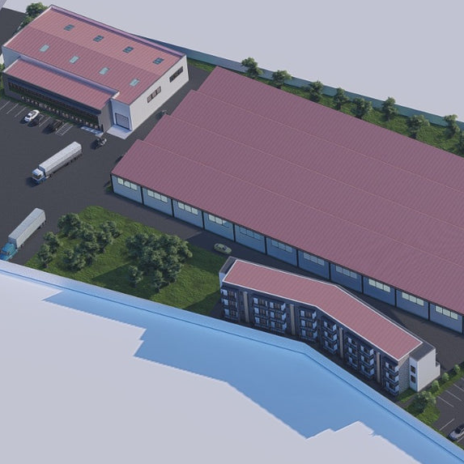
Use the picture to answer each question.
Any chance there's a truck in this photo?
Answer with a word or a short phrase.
Yes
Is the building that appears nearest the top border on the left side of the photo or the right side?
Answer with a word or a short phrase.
left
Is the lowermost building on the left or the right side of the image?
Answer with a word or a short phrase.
right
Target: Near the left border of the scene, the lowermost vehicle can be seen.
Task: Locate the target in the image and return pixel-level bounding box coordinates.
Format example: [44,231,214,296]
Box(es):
[0,209,48,261]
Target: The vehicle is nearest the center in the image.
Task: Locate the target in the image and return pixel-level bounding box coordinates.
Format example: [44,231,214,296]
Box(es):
[213,244,233,256]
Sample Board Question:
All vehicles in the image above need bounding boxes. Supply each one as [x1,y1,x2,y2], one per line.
[31,114,48,127]
[0,209,48,261]
[213,244,233,256]
[23,110,40,123]
[451,424,464,439]
[95,133,110,145]
[116,149,125,162]
[33,142,83,185]
[157,106,171,118]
